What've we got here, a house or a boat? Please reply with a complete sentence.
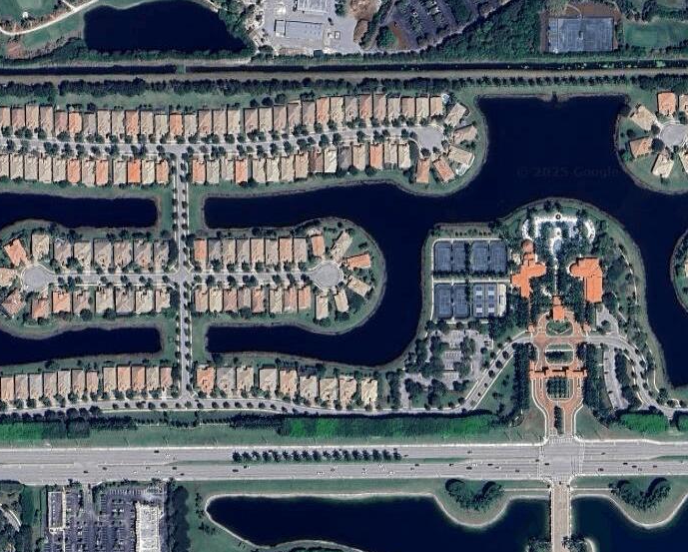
There is a house in the scene.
